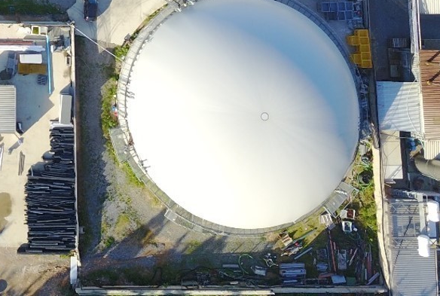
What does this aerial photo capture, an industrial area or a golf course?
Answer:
industrial area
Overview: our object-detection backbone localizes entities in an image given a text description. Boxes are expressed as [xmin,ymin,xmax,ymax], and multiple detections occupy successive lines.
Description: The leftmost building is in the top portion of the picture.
[55,92,72,124]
